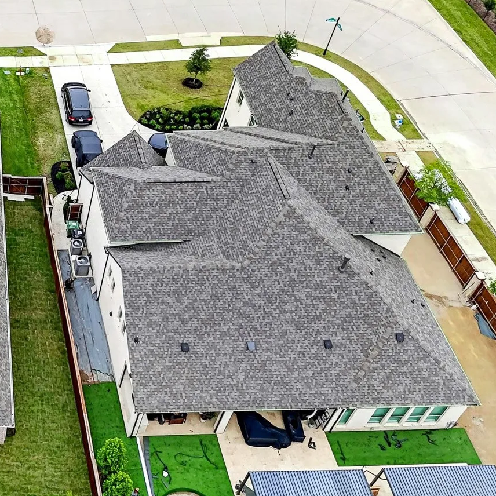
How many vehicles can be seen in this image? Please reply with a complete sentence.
The count of vehicles comes to 3.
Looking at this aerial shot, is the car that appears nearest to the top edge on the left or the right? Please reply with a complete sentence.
You can find the car that appears nearest to the top edge on the left side of the picture.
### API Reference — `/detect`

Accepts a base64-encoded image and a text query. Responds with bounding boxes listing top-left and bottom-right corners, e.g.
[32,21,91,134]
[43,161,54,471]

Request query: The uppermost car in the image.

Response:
[60,83,97,132]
